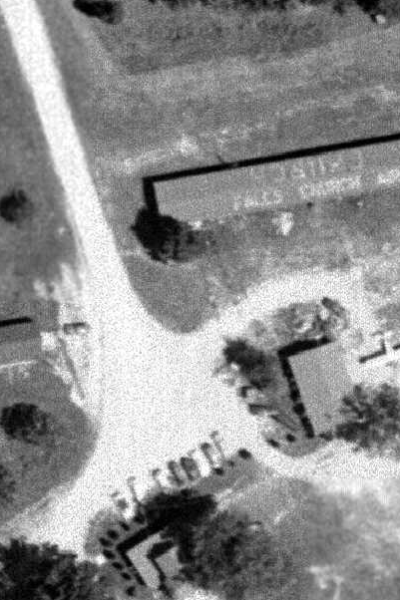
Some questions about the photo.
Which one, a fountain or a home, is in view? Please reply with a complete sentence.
There is a home in the scene.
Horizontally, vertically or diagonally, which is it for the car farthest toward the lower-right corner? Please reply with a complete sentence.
From this overhead view, the car farthest toward the lower-right corner appears to run diagonally.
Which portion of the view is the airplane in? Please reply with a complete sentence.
Look in the right portion of the view to spot the airplane.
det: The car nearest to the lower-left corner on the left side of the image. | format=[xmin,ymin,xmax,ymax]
[114,490,134,518]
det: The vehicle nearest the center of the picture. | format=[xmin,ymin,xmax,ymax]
[225,364,251,383]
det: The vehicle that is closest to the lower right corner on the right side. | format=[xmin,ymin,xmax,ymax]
[266,411,292,434]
